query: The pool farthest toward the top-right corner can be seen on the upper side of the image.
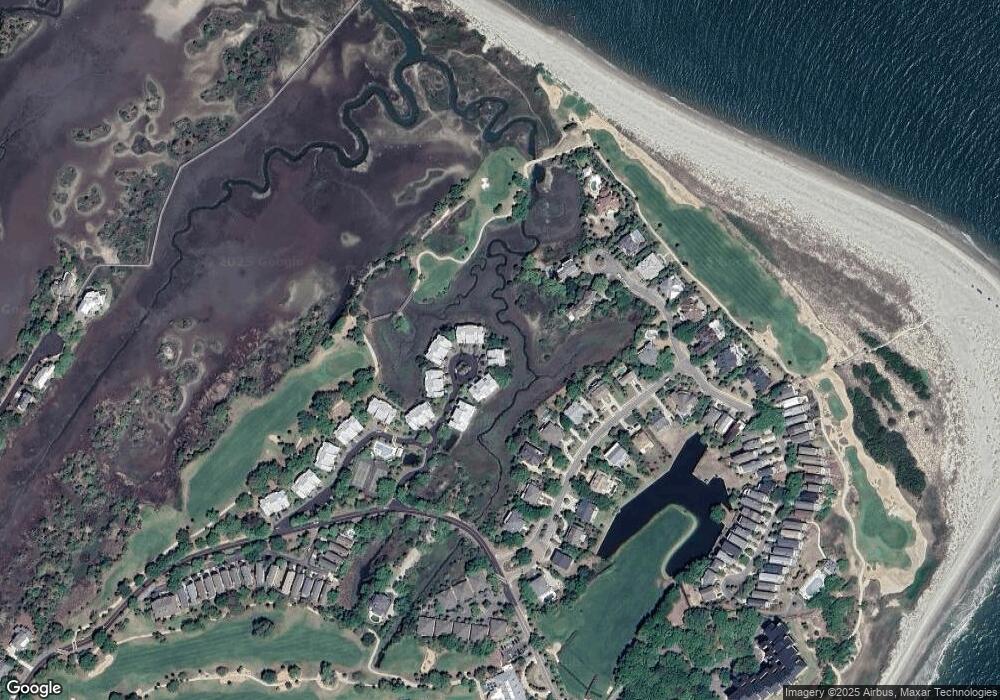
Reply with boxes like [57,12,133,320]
[588,174,602,197]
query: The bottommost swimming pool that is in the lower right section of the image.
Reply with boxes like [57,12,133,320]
[800,569,825,598]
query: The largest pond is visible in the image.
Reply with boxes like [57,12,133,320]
[596,433,732,576]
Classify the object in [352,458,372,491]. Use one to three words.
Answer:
tennis court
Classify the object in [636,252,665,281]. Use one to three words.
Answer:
house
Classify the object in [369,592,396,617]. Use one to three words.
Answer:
house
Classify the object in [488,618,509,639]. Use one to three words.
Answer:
building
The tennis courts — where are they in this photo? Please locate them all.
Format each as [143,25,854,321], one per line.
[366,465,389,494]
[352,458,372,491]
